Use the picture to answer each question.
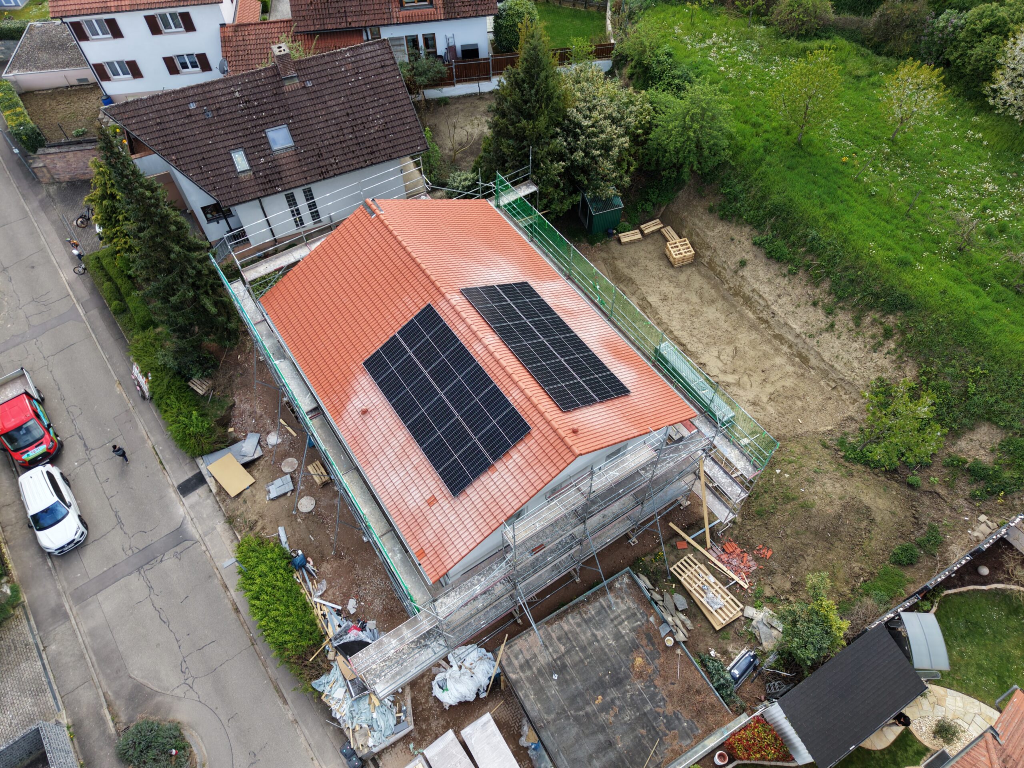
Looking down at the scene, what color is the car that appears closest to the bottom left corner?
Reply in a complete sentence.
The color of the car that appears closest to the bottom left corner is white.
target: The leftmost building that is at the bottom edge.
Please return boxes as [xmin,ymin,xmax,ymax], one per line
[493,566,775,768]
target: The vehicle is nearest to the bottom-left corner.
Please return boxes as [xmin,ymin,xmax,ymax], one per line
[17,459,94,555]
